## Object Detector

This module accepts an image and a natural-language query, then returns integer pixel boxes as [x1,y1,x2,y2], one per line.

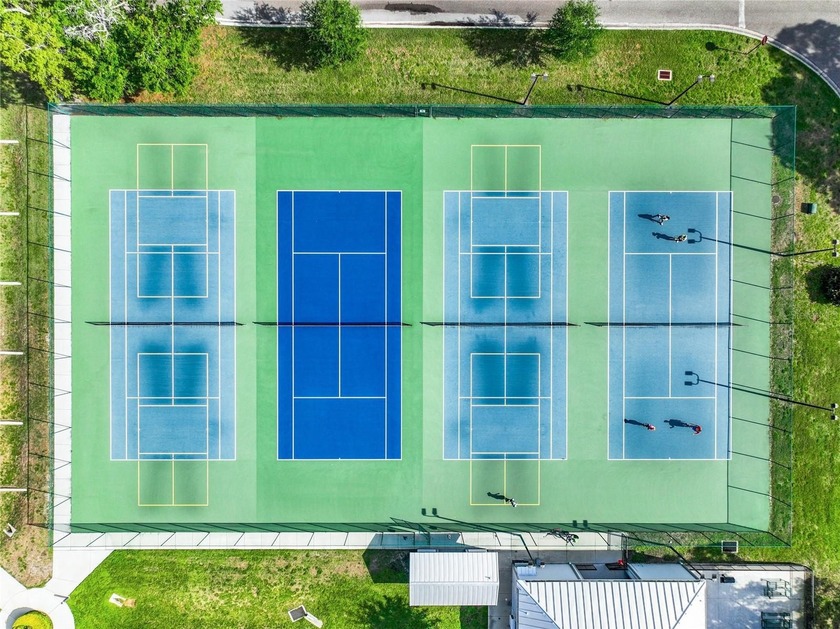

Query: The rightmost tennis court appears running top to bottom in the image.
[588,117,772,532]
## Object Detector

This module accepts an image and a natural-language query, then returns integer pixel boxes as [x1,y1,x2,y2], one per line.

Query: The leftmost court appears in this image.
[71,117,256,532]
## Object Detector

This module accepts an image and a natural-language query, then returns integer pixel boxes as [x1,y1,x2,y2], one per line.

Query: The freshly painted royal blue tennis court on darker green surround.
[256,117,423,532]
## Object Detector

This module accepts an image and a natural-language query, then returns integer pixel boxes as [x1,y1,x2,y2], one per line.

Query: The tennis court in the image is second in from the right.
[423,117,588,532]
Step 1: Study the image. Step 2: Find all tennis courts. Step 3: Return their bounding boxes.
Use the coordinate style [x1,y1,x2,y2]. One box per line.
[71,117,256,532]
[588,117,772,532]
[256,117,423,532]
[423,117,588,532]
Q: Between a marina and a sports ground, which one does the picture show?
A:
sports ground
